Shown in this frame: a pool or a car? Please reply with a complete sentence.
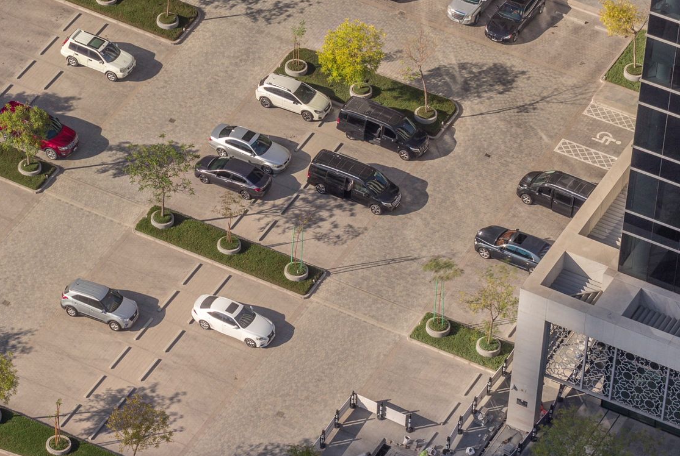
Visible in the photo is a car.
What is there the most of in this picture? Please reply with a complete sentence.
For the most part, this view shows paved ground.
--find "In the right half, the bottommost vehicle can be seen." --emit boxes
[468,224,553,272]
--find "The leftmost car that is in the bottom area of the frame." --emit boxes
[58,277,143,331]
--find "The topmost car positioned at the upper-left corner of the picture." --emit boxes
[58,25,139,81]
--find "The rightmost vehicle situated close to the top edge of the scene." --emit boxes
[483,0,548,45]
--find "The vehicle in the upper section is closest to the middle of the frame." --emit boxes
[306,147,406,215]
